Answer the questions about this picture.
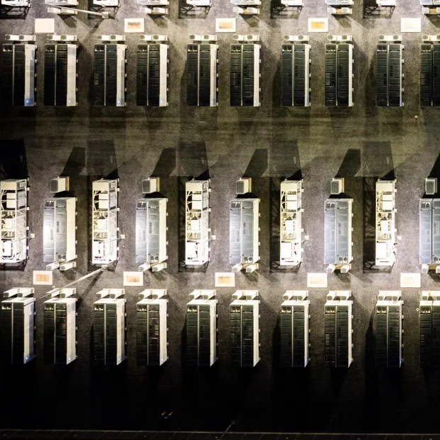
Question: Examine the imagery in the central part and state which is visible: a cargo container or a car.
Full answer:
You can see a cargo container in the central part.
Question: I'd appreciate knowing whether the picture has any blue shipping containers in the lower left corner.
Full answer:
No, there is no blue shipping container in the lower left corner.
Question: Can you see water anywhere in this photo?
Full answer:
No, there's no water in this view.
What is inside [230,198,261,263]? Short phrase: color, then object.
white shipping container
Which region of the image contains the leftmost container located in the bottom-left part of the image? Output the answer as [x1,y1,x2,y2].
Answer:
[0,297,34,364]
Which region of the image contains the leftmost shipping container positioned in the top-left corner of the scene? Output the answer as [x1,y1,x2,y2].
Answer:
[1,45,37,105]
